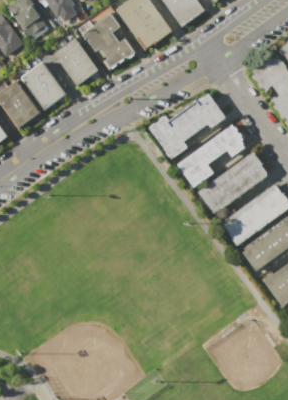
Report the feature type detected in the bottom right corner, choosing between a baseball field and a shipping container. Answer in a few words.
baseball field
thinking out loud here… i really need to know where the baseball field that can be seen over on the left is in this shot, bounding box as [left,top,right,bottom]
[26,322,146,400]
